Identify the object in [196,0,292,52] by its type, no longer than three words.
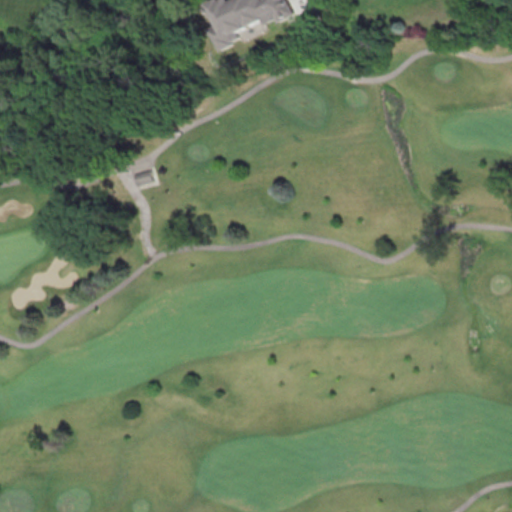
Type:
building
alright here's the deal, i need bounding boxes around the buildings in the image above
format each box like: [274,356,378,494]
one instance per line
[196,0,292,52]
[133,169,154,186]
